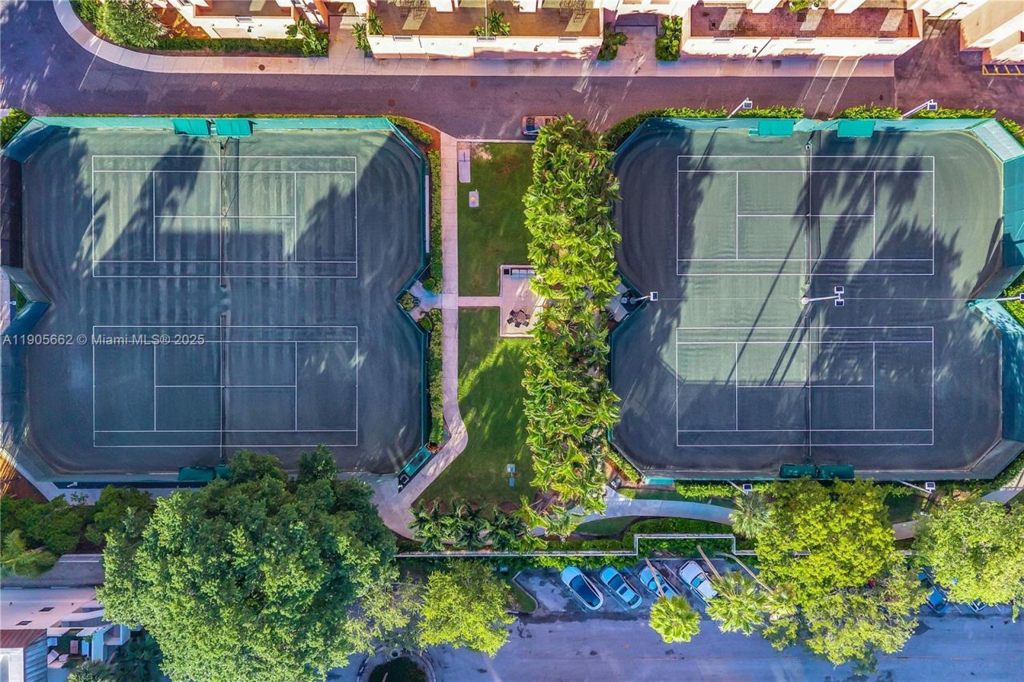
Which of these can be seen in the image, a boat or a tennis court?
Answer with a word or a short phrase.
tennis court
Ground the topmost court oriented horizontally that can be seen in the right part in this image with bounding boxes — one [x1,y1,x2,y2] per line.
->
[614,130,1004,301]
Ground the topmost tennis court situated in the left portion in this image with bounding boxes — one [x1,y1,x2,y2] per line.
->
[22,128,424,301]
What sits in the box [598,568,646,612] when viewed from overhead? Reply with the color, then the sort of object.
blue car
